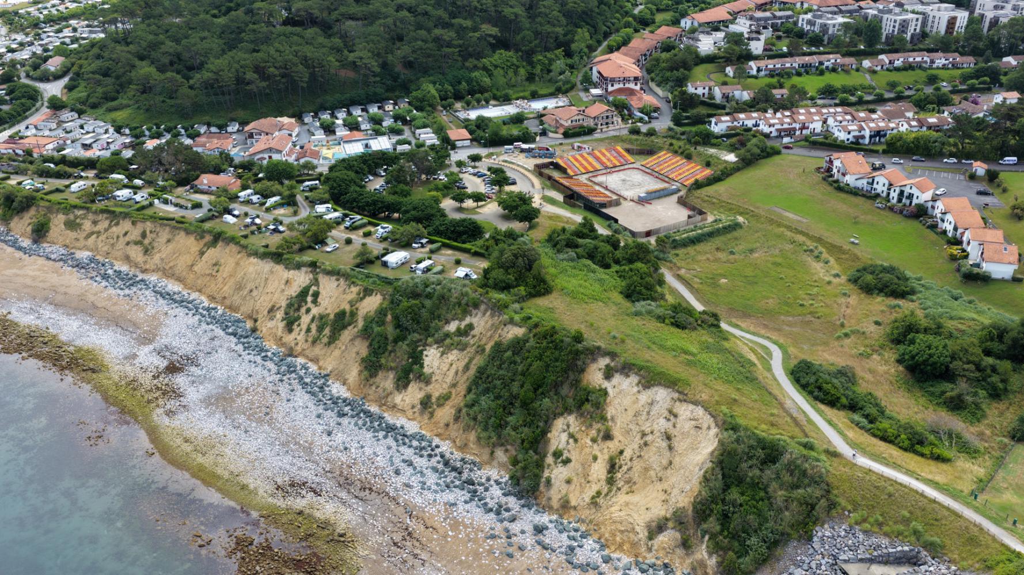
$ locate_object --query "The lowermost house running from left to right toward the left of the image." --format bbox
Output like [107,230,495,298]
[190,173,249,201]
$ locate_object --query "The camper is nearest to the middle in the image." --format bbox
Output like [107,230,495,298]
[450,265,477,280]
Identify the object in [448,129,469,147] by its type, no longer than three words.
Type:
building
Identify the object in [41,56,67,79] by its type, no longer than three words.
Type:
house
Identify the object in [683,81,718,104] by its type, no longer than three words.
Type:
house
